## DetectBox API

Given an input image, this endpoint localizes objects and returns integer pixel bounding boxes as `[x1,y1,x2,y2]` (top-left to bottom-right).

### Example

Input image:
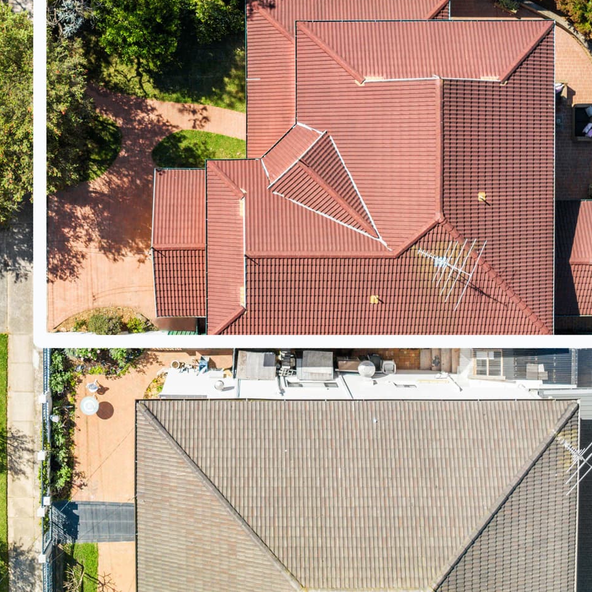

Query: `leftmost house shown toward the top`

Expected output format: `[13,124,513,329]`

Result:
[148,0,558,344]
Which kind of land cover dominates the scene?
buildings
